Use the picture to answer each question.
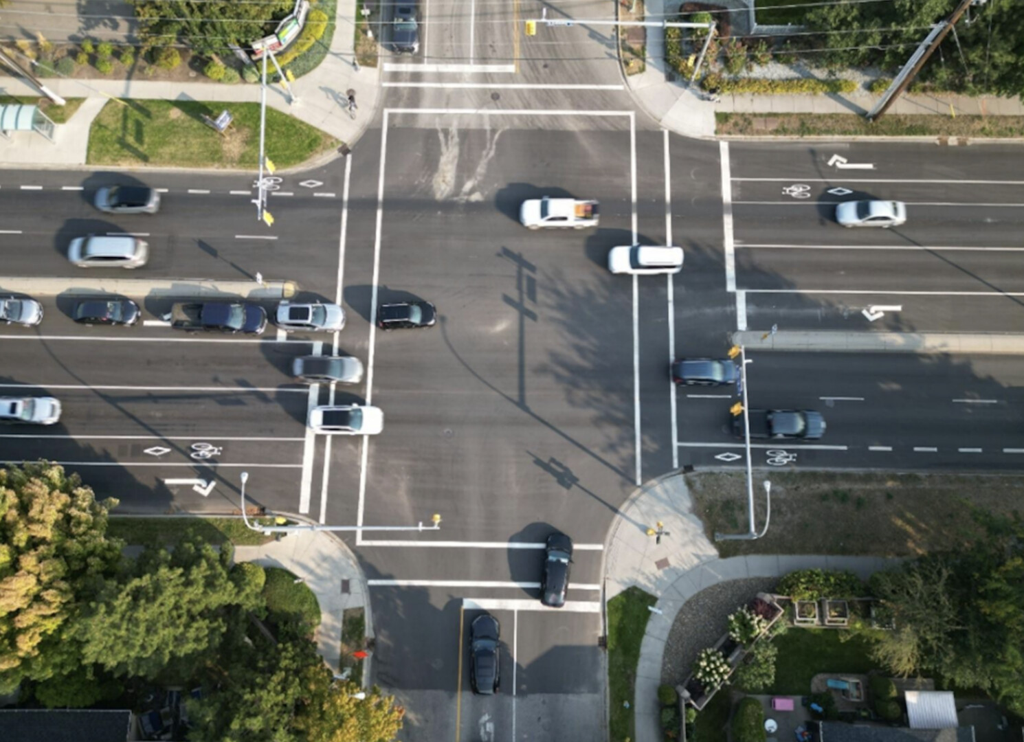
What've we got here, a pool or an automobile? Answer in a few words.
automobile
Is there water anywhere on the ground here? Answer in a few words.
No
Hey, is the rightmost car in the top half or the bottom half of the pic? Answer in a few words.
top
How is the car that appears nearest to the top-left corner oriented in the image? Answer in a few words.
from side to side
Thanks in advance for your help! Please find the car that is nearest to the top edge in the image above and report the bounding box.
[390,0,422,57]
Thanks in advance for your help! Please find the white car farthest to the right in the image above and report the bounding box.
[833,195,908,231]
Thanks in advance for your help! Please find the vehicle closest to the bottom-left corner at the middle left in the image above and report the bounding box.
[0,391,66,427]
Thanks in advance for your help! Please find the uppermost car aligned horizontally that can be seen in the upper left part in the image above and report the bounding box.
[93,181,165,216]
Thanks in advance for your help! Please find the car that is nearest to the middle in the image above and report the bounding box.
[377,297,437,332]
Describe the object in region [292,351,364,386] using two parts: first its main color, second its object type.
gray car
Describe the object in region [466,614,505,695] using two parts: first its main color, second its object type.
black car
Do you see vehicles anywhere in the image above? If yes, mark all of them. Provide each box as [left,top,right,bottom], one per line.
[377,297,437,332]
[0,391,66,427]
[274,298,347,334]
[670,352,741,388]
[70,295,145,329]
[390,0,422,57]
[307,400,385,437]
[166,298,270,335]
[292,351,364,386]
[66,231,153,270]
[538,533,577,609]
[0,295,47,329]
[833,195,908,231]
[727,404,828,442]
[520,193,600,232]
[607,240,685,278]
[93,181,165,216]
[466,614,505,695]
